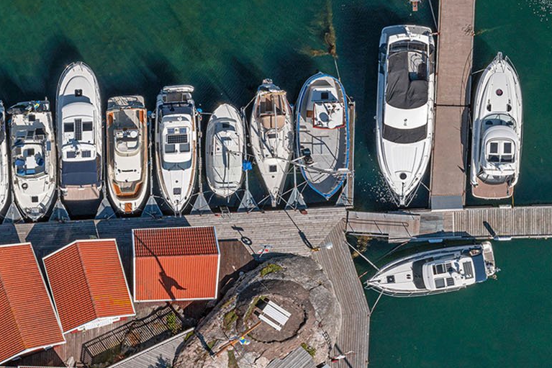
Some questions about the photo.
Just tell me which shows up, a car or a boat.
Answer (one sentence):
Visible in the photo is a boat.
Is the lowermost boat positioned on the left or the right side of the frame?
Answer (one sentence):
The lowermost boat is on the right side of the image.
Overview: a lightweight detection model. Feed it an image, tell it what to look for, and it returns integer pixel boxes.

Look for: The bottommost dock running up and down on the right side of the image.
[429,106,469,198]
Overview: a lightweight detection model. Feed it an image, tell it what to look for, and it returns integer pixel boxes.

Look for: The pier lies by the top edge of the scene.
[434,0,473,105]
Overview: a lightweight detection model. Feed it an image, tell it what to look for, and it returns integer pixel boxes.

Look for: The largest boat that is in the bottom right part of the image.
[351,239,499,318]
